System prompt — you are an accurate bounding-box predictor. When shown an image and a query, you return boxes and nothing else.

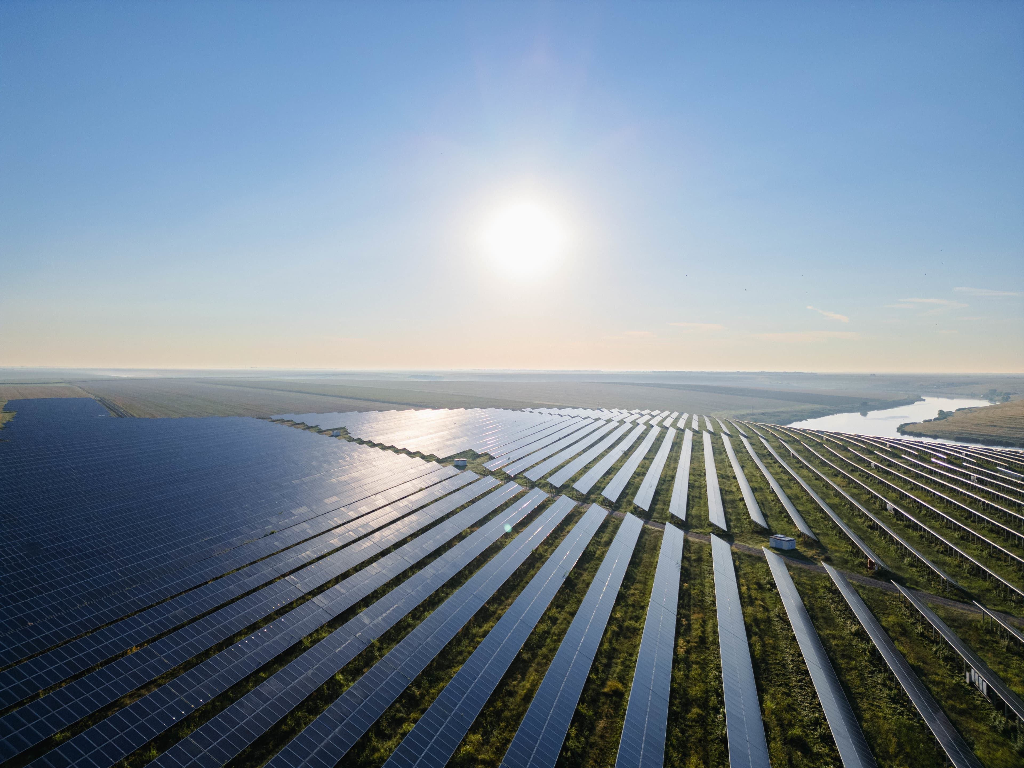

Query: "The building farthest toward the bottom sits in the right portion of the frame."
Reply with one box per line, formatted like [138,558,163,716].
[772,537,796,553]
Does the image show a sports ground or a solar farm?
solar farm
